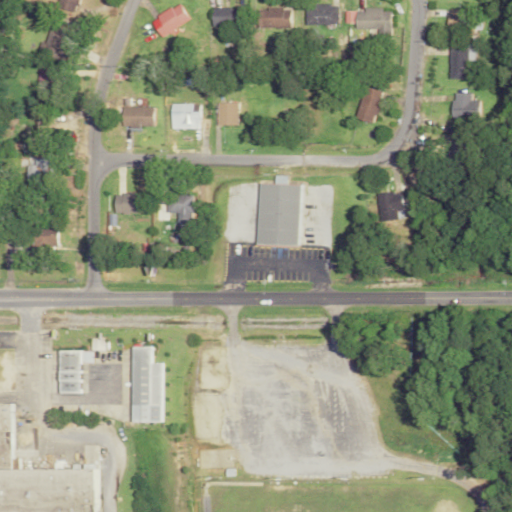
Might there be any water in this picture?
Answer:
No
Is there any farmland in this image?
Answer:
No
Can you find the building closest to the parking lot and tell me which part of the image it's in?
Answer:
center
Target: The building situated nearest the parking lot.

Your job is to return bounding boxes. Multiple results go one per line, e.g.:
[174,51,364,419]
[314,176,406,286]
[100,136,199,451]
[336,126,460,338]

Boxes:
[256,176,303,247]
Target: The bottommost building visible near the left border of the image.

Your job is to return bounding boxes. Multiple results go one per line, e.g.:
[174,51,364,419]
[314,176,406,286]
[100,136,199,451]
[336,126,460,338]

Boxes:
[0,470,102,512]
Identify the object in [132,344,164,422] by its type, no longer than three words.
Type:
shed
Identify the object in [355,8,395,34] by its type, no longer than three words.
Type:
house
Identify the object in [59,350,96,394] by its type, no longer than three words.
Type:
building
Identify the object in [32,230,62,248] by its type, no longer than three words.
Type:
house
